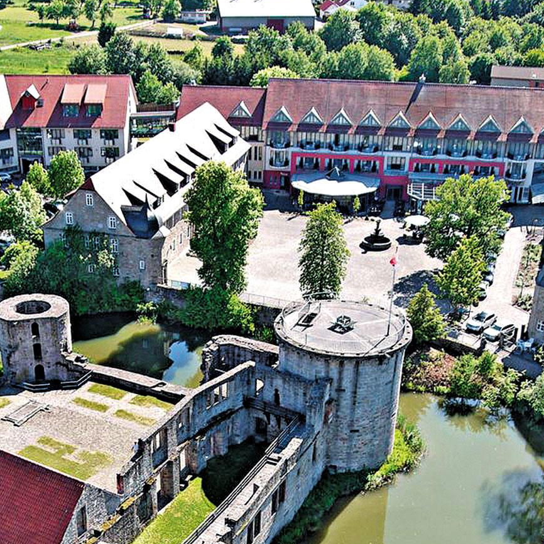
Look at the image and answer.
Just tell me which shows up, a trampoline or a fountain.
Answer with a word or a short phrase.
fountain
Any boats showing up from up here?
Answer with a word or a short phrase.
No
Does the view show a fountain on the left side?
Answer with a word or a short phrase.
No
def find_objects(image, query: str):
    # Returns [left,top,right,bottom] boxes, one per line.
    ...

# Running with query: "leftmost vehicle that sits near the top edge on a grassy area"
[64,15,79,28]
